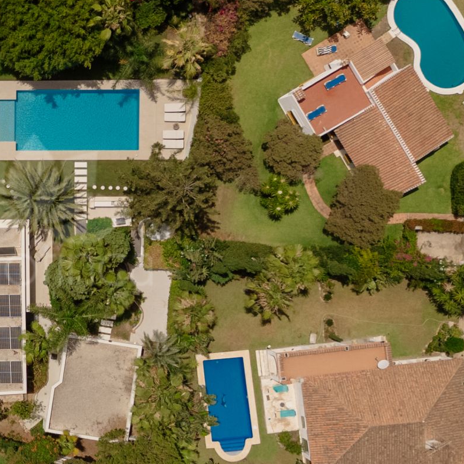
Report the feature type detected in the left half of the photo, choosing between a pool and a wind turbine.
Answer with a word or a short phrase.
pool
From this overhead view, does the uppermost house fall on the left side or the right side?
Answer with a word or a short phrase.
right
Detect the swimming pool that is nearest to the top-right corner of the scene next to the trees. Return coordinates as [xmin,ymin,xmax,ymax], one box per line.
[387,0,464,95]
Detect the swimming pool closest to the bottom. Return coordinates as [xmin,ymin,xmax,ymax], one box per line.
[196,350,261,462]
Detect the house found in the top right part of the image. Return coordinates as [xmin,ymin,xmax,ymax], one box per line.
[266,39,454,207]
